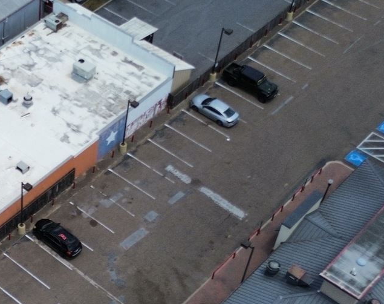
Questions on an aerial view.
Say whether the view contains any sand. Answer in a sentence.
No, no sand is visible.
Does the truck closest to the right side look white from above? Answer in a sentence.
No, the truck closest to the right side is black.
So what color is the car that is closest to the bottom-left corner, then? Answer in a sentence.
The car that is closest to the bottom-left corner looks black in the image.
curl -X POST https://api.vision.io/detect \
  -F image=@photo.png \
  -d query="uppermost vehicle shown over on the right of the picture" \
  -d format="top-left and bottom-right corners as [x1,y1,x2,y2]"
[221,59,284,99]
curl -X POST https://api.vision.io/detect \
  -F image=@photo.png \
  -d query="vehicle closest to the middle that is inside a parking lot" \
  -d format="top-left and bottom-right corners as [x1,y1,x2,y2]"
[189,90,242,127]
